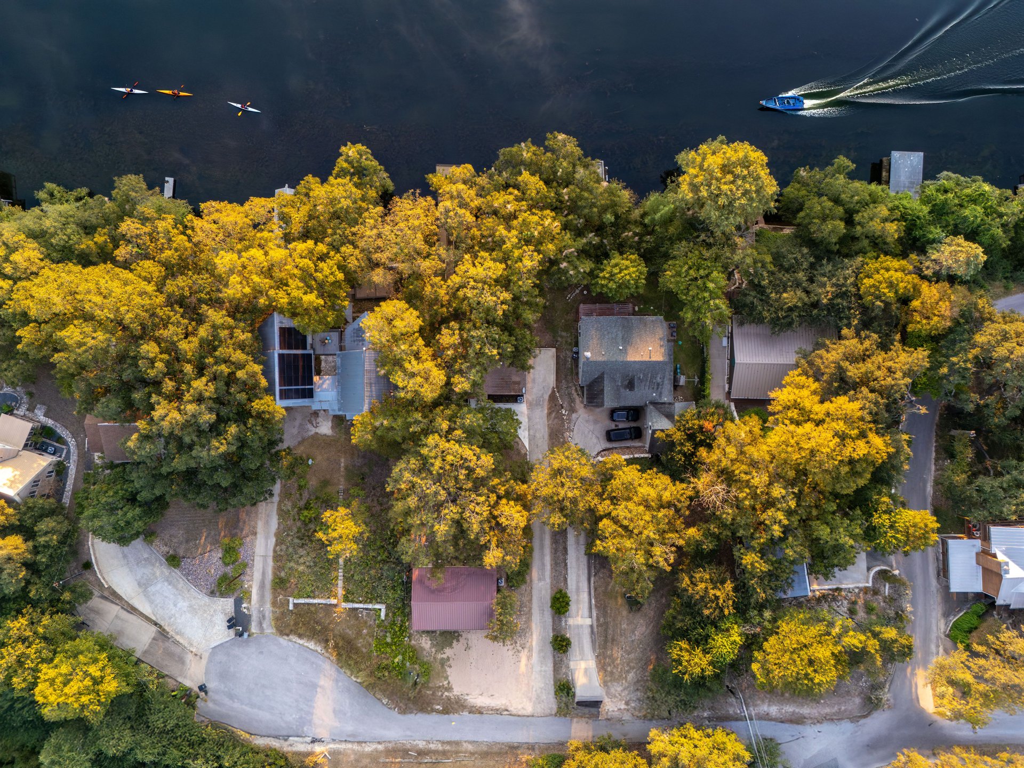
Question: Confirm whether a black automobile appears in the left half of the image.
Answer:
No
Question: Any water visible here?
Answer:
Yes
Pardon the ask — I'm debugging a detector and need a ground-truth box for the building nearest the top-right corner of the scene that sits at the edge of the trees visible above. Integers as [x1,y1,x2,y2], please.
[876,151,924,206]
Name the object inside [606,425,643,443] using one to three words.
car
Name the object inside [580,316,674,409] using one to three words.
house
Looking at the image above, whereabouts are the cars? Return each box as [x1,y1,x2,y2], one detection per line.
[606,425,643,443]
[610,408,641,424]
